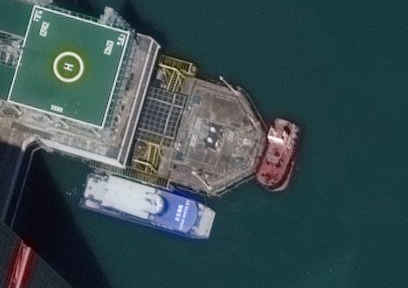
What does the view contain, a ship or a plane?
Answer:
ship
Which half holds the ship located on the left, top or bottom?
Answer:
bottom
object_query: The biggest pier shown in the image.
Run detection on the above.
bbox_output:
[157,75,272,204]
